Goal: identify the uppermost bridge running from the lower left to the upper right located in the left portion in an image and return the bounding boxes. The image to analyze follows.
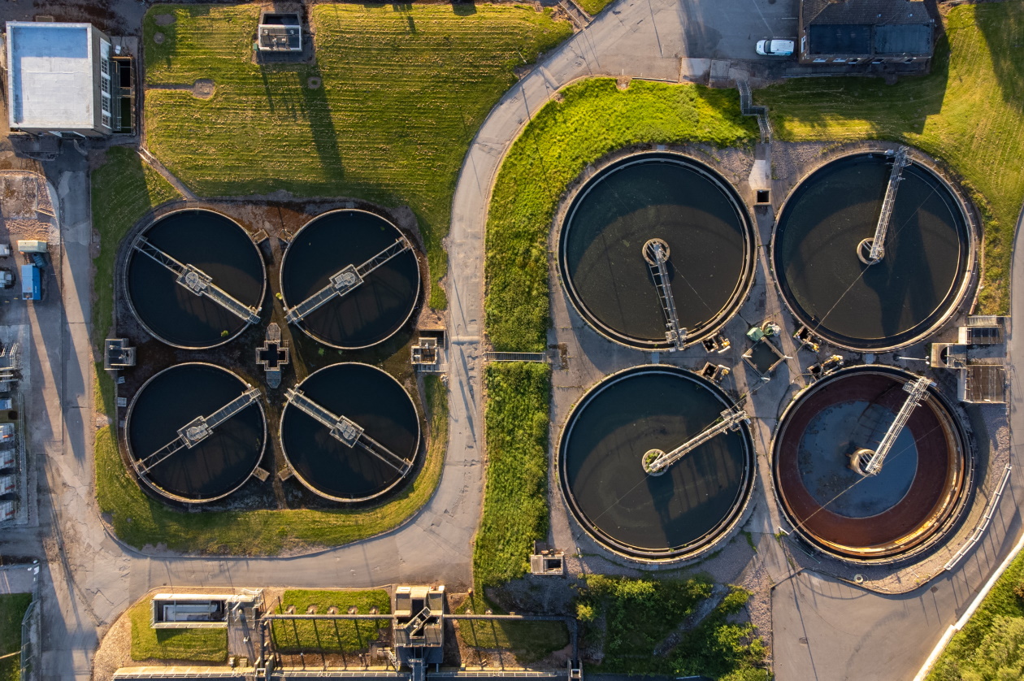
[281,233,411,328]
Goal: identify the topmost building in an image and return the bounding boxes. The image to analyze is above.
[800,0,933,64]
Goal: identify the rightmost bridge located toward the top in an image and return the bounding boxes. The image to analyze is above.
[867,144,918,262]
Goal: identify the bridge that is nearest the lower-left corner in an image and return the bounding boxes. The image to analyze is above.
[128,387,266,475]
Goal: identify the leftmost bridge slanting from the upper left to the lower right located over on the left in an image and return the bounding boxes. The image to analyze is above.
[128,236,265,324]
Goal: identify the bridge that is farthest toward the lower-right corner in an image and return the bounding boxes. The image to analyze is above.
[862,375,939,480]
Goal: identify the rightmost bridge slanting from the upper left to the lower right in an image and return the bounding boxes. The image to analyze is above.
[281,386,412,477]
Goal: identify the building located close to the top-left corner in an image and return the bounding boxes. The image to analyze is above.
[7,22,113,145]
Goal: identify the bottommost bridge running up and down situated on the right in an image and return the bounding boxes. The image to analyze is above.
[648,239,686,351]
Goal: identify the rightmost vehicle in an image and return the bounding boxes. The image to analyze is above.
[754,38,797,59]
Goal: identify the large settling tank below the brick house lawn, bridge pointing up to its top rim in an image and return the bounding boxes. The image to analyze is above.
[772,144,977,352]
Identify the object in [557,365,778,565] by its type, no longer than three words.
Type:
storage tank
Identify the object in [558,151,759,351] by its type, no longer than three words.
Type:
storage tank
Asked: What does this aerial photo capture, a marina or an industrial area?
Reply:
industrial area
